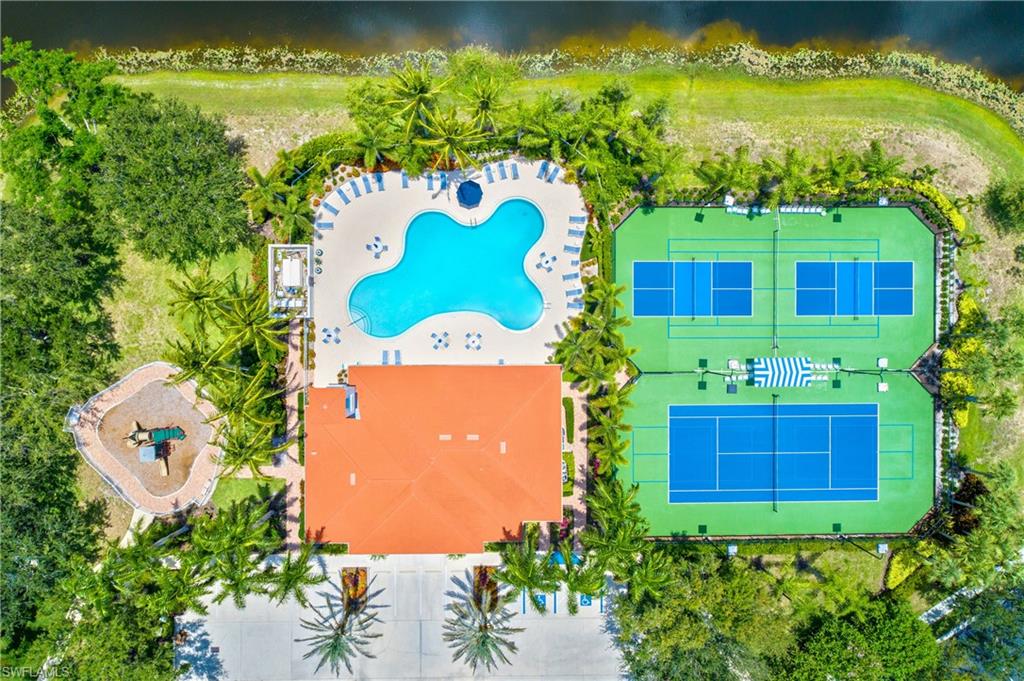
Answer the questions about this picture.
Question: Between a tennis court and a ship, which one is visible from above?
tennis court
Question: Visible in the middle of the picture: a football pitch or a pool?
pool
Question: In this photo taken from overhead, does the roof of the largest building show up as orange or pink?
orange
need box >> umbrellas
[457,181,483,208]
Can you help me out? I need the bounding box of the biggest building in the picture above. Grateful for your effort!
[306,365,562,554]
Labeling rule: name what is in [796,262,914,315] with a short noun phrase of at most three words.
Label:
sports court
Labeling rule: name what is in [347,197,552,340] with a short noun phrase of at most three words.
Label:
swimming pool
